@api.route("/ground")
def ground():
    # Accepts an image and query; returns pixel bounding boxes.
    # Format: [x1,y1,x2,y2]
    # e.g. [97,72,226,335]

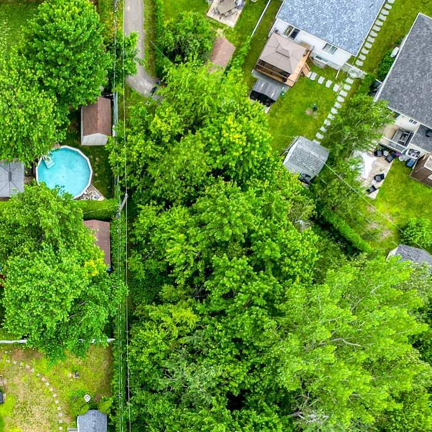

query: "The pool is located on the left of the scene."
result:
[36,143,92,202]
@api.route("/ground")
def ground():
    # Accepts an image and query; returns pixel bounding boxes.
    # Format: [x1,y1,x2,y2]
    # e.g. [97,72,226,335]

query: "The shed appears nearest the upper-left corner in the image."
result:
[80,95,111,143]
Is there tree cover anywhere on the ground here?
Yes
